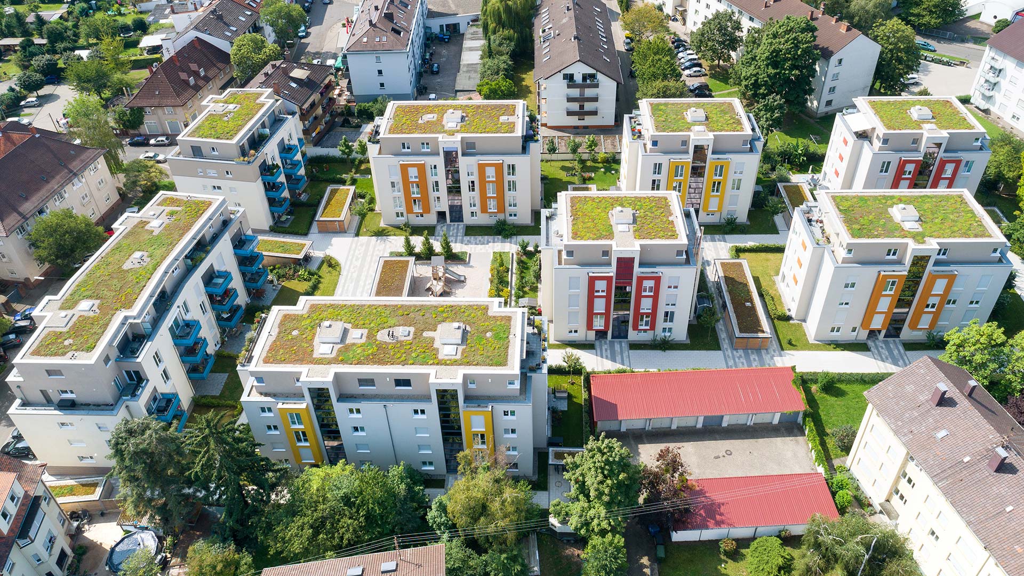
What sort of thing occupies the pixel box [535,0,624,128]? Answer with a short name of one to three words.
house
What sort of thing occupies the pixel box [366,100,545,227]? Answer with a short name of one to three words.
building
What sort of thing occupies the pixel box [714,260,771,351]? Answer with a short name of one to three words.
shed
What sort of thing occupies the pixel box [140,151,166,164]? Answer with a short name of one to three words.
vehicle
